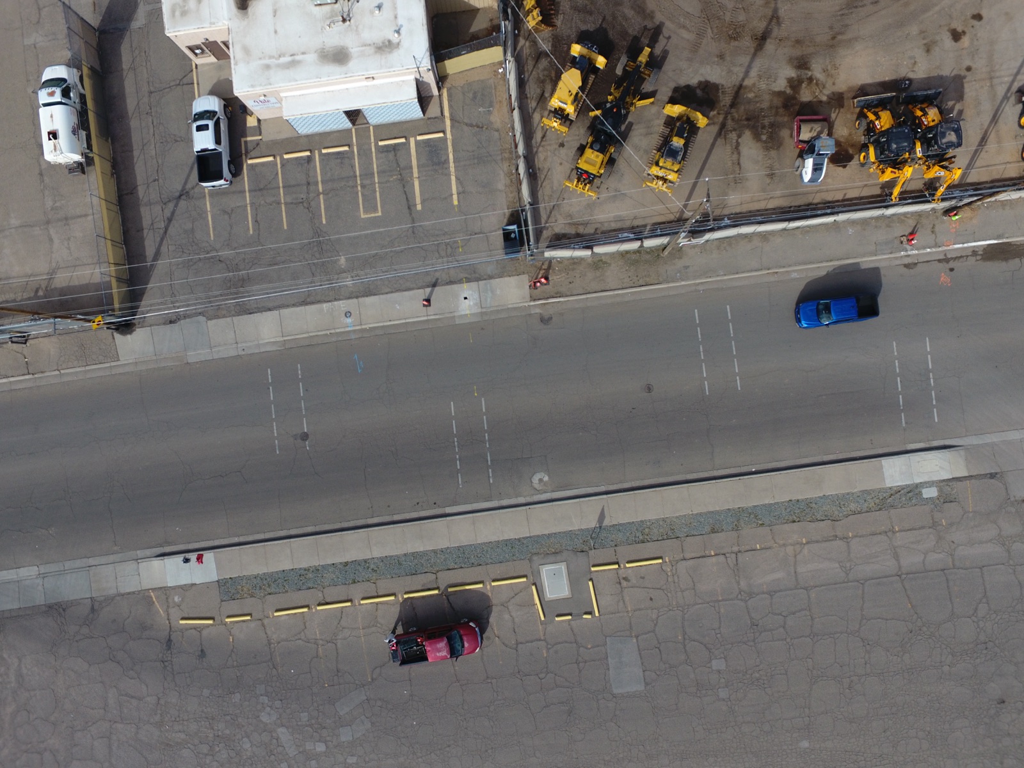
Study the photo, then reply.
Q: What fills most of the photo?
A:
paved ground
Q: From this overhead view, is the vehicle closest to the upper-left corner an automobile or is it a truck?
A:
truck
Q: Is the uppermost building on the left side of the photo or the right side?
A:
left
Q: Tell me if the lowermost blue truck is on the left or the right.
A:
right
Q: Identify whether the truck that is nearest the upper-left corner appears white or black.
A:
white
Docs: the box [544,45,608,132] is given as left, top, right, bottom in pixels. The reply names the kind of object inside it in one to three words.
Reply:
work vehicle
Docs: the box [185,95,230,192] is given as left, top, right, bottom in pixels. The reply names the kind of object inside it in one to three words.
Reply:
truck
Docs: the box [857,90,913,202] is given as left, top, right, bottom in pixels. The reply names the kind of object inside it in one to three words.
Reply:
work vehicle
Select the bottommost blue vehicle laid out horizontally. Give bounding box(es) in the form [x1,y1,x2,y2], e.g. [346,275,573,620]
[792,288,881,330]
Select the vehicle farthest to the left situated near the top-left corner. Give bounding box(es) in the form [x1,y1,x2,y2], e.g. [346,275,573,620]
[27,65,90,174]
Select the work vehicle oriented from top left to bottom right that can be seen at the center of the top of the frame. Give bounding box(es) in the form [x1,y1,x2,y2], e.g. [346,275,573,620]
[524,0,556,32]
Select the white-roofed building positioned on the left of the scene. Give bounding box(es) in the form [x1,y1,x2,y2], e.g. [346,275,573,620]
[159,0,440,134]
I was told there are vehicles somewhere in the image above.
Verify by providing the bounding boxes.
[902,86,962,198]
[524,0,556,32]
[857,90,913,202]
[388,622,482,666]
[185,95,230,192]
[27,65,90,174]
[792,288,881,330]
[564,41,662,196]
[646,104,713,193]
[544,45,608,132]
